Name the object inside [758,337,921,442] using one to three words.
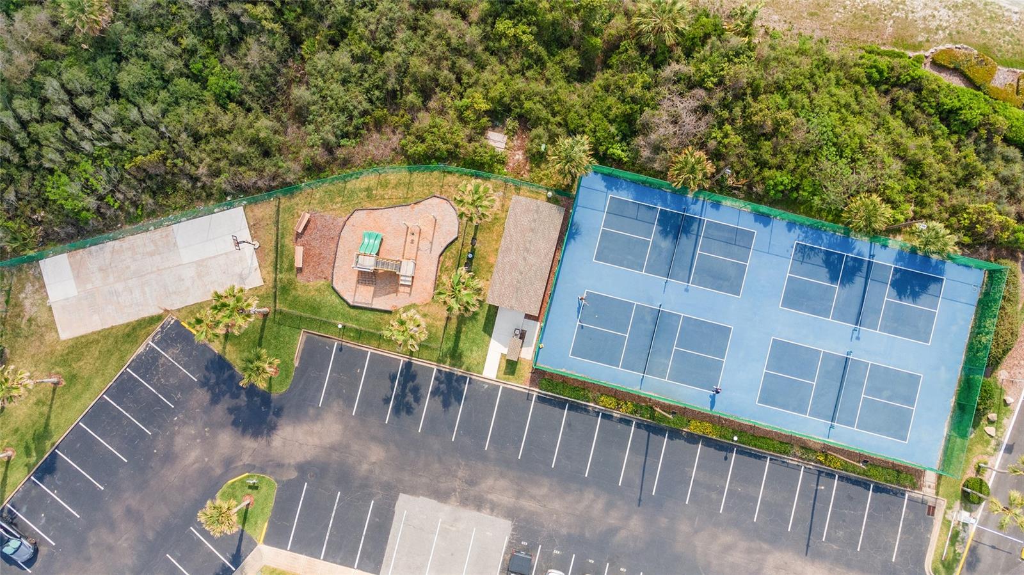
sports court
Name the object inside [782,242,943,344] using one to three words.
sports court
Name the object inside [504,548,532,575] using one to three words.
truck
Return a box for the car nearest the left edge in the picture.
[0,519,35,565]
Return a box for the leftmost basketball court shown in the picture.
[39,206,263,340]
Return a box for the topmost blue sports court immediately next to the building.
[594,196,755,297]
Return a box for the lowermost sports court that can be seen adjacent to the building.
[570,290,733,391]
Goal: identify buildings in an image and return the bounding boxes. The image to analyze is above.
[485,195,564,316]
